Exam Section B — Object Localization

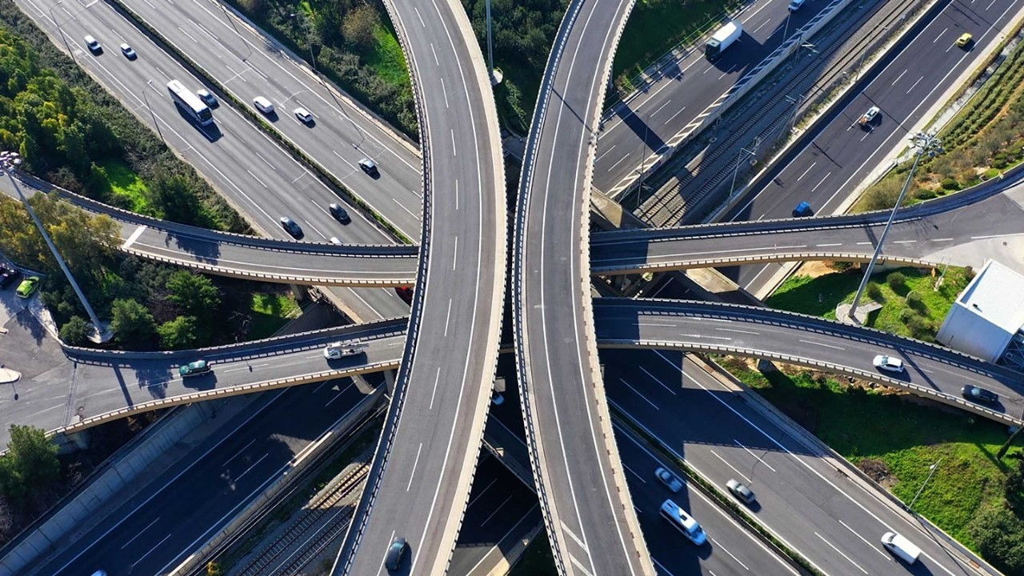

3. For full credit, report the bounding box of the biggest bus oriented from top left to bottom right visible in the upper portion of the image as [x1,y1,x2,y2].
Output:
[167,79,216,124]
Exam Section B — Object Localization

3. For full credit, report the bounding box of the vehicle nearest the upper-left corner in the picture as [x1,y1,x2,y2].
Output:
[84,34,102,51]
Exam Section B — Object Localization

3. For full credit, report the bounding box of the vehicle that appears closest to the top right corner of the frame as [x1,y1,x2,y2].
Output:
[957,35,972,47]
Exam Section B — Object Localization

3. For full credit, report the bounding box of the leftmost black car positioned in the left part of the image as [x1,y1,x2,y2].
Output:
[0,264,21,287]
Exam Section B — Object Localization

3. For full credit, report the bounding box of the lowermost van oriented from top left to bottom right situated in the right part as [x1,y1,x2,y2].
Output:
[880,532,924,568]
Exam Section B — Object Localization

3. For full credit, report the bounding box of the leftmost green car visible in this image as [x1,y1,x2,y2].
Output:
[16,277,40,299]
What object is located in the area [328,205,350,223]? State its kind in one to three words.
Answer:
car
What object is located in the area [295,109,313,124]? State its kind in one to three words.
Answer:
car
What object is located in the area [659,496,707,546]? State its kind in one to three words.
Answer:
vehicle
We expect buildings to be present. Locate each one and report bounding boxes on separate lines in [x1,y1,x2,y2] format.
[935,262,1024,365]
